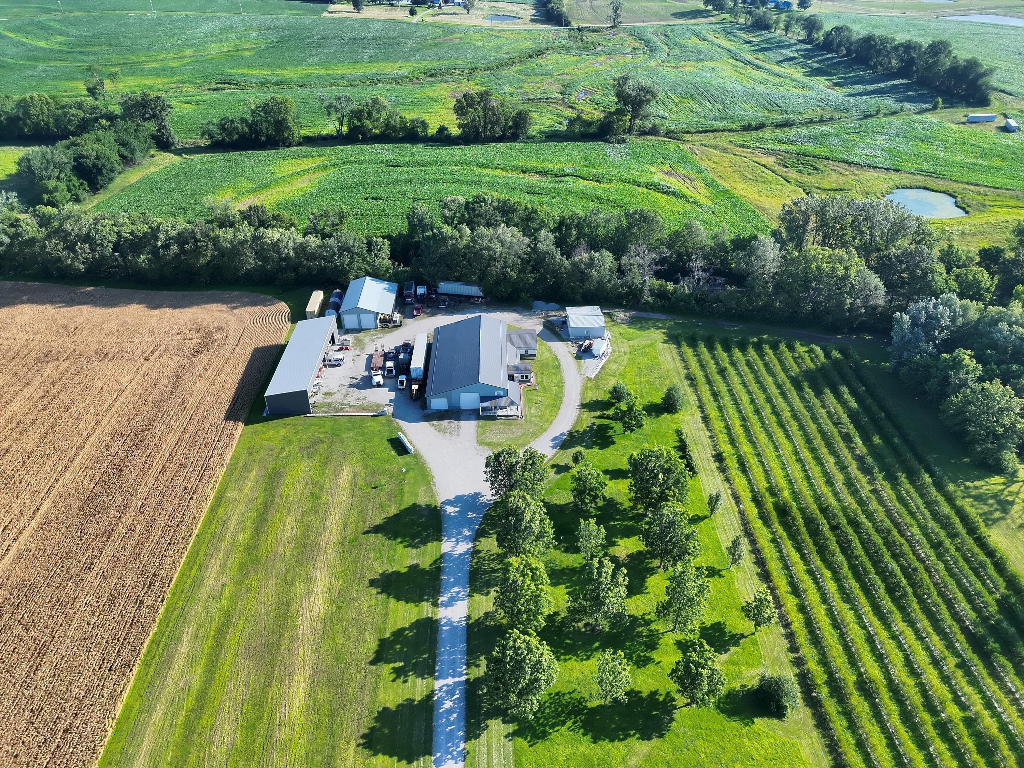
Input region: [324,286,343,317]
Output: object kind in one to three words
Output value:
shed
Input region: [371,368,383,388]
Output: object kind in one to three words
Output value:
vehicle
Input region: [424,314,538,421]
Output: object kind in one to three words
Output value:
barn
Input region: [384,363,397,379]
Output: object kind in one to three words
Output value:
vehicle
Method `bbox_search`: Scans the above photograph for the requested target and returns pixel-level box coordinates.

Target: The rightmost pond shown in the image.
[887,188,966,217]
